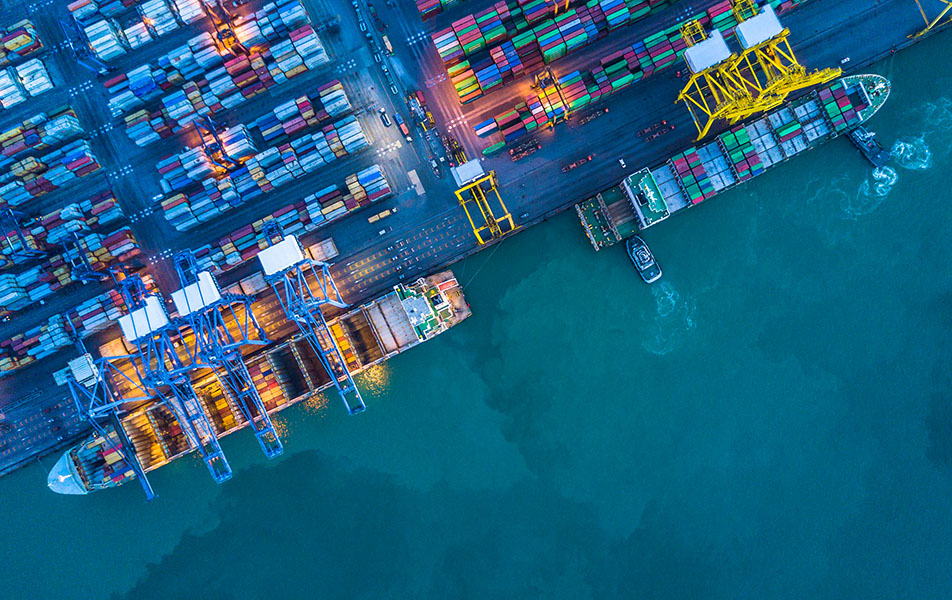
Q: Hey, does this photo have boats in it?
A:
Yes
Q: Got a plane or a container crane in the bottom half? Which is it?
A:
container crane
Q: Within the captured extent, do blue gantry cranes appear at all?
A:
Yes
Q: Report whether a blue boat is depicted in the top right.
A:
Yes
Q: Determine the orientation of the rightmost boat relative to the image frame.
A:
diagonally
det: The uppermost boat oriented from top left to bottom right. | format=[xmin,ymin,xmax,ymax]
[843,130,895,175]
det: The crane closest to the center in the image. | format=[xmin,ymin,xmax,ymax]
[446,140,519,245]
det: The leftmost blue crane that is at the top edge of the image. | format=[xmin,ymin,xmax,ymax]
[24,24,91,91]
